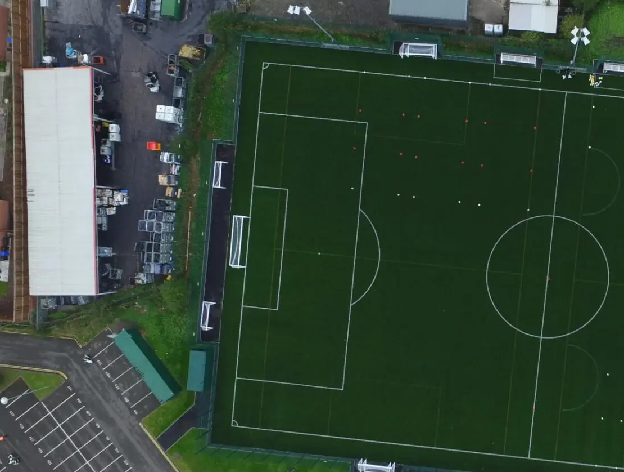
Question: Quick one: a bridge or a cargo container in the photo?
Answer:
cargo container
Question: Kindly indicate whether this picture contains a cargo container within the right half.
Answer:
No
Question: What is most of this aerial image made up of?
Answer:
grass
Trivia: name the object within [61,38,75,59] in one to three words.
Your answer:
vehicle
